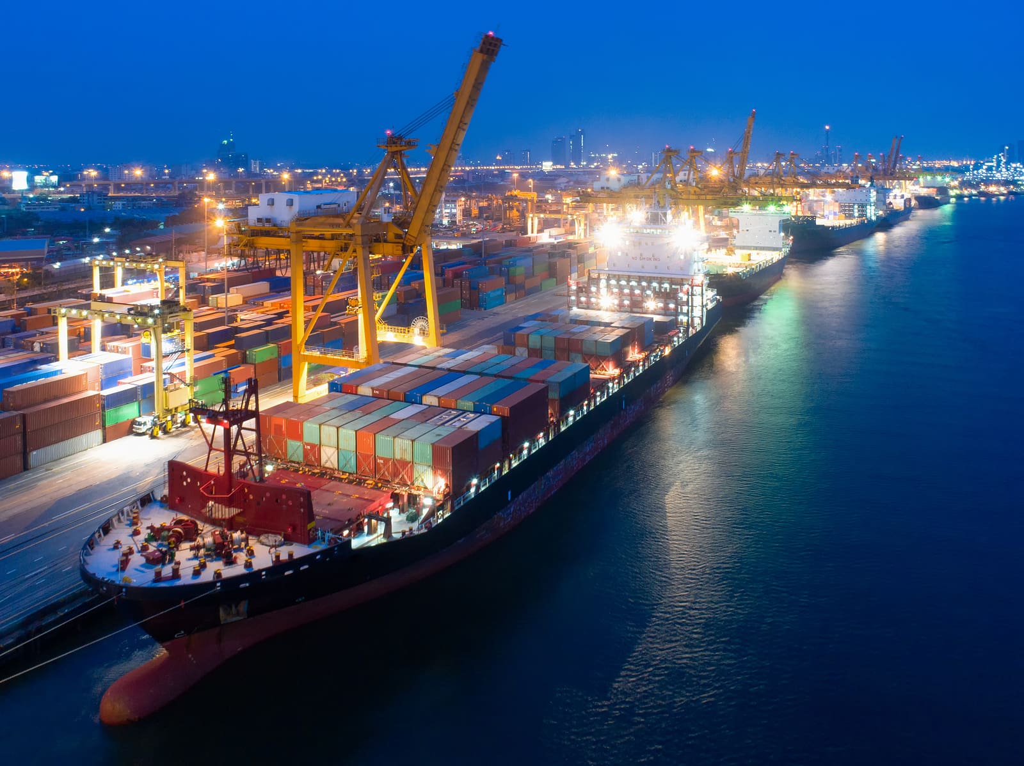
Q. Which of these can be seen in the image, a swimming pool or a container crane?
container crane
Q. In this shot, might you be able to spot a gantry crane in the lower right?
No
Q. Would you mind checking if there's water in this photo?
Yes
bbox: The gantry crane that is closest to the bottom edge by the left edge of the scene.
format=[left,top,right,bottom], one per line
[49,292,213,441]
